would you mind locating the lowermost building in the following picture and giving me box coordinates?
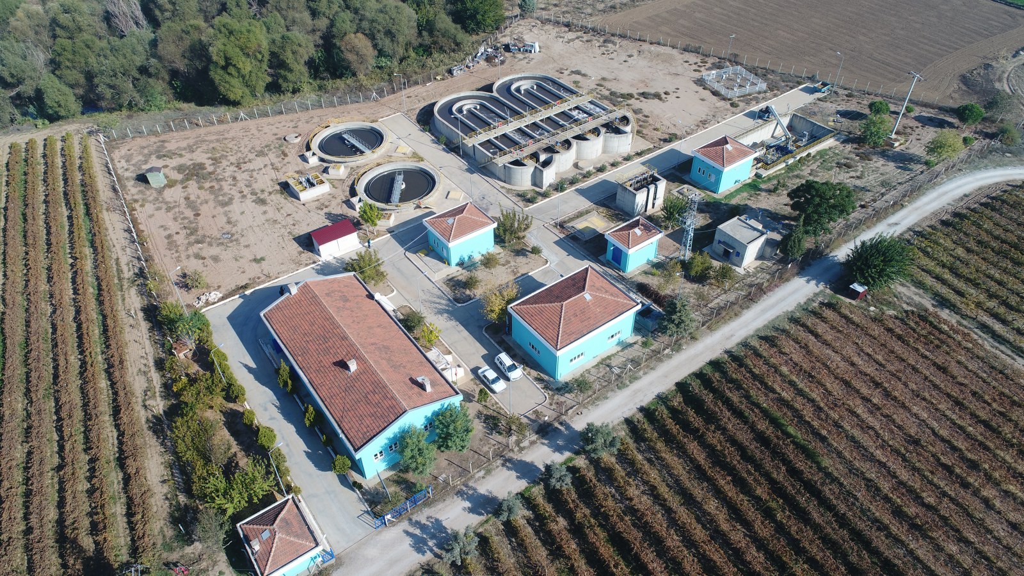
[237,493,323,576]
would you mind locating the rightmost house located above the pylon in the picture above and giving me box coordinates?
[688,134,760,193]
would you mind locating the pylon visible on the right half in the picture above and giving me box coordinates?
[680,193,712,261]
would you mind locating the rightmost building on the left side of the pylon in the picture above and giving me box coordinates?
[602,216,667,275]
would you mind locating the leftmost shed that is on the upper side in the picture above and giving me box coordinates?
[140,169,164,188]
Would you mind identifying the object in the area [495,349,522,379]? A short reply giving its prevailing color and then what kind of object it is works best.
white car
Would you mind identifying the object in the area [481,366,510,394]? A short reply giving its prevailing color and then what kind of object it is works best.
white car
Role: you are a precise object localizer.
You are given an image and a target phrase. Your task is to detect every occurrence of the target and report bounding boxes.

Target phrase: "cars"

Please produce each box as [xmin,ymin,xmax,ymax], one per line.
[481,366,510,394]
[495,349,522,379]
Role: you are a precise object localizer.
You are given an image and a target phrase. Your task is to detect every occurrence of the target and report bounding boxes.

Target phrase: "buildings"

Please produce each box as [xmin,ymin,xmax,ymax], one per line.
[237,493,323,576]
[846,280,872,303]
[310,219,357,256]
[259,272,462,476]
[688,134,760,193]
[507,265,642,380]
[602,216,667,275]
[423,201,497,266]
[712,212,773,265]
[140,169,164,188]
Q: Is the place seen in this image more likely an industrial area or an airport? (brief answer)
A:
industrial area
